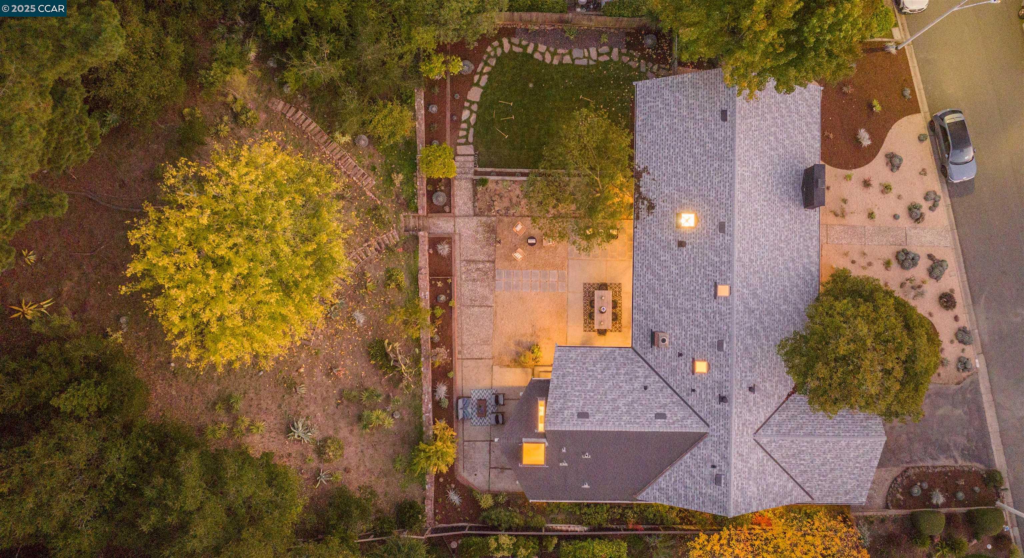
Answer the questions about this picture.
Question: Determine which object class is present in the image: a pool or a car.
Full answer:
Of the two, only a car appears.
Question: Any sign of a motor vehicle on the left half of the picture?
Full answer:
No, on the left half of the picture there is no motor vehicle.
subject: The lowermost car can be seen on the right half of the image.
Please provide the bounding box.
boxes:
[931,107,983,184]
